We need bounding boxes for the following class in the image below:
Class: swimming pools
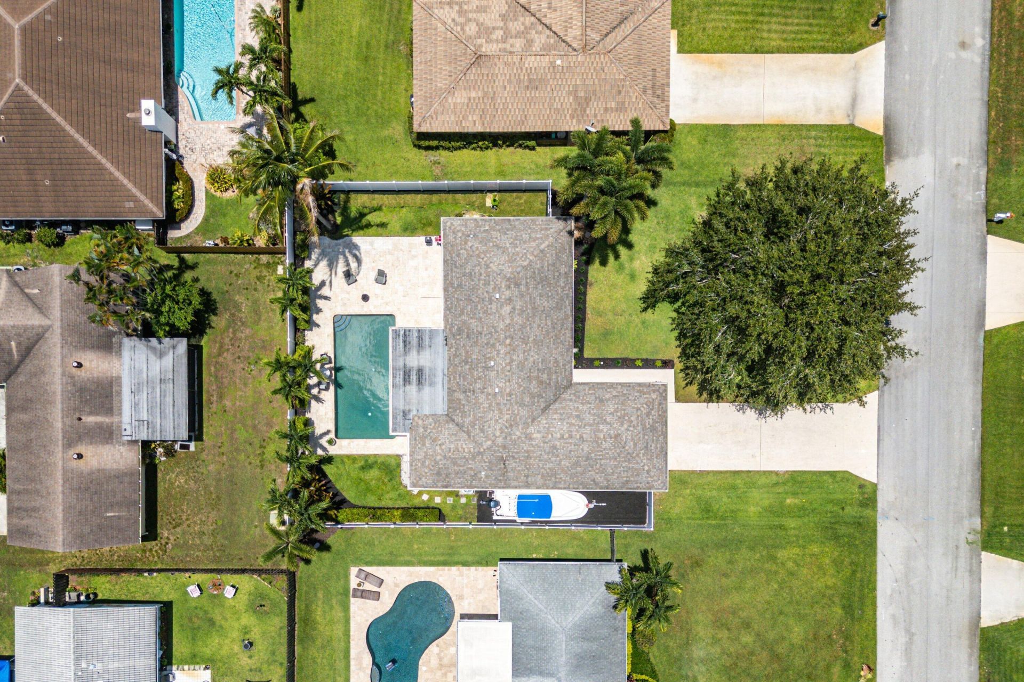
[170,0,239,124]
[363,578,458,682]
[330,310,400,443]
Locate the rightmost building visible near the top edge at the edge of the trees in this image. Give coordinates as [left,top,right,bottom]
[411,0,672,138]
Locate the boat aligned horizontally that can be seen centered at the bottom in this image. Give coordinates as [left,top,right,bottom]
[477,491,589,523]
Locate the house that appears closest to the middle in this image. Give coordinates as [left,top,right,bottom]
[388,216,669,491]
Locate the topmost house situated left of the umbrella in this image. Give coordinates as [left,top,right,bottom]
[0,0,180,220]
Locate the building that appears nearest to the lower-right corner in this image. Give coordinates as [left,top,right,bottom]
[456,561,628,682]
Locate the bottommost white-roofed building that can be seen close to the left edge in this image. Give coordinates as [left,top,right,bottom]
[14,604,161,682]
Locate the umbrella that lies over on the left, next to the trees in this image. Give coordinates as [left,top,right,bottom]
[232,110,256,135]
